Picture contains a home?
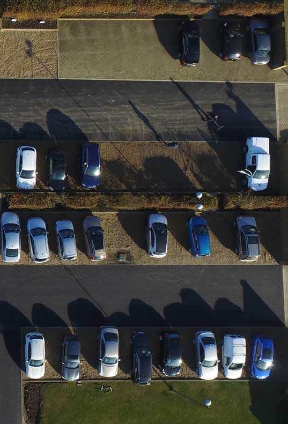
No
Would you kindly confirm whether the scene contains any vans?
Yes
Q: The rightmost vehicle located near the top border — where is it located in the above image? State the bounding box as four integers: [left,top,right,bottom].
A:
[244,21,271,65]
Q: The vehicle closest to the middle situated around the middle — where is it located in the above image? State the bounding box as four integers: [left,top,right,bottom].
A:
[142,214,169,259]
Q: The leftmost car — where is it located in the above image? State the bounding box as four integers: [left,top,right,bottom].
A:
[0,211,22,263]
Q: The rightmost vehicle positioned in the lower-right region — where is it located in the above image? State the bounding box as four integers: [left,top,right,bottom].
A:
[246,334,274,379]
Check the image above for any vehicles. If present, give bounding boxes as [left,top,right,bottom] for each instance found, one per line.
[22,331,47,379]
[81,216,106,263]
[183,216,209,259]
[58,335,83,380]
[190,330,218,380]
[0,211,22,263]
[156,332,183,376]
[244,21,271,65]
[246,334,274,379]
[218,23,244,63]
[94,326,120,377]
[45,147,68,191]
[218,333,246,380]
[53,219,77,261]
[230,217,261,263]
[236,137,271,192]
[77,142,104,188]
[174,22,200,67]
[25,217,49,263]
[14,146,38,191]
[142,214,169,259]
